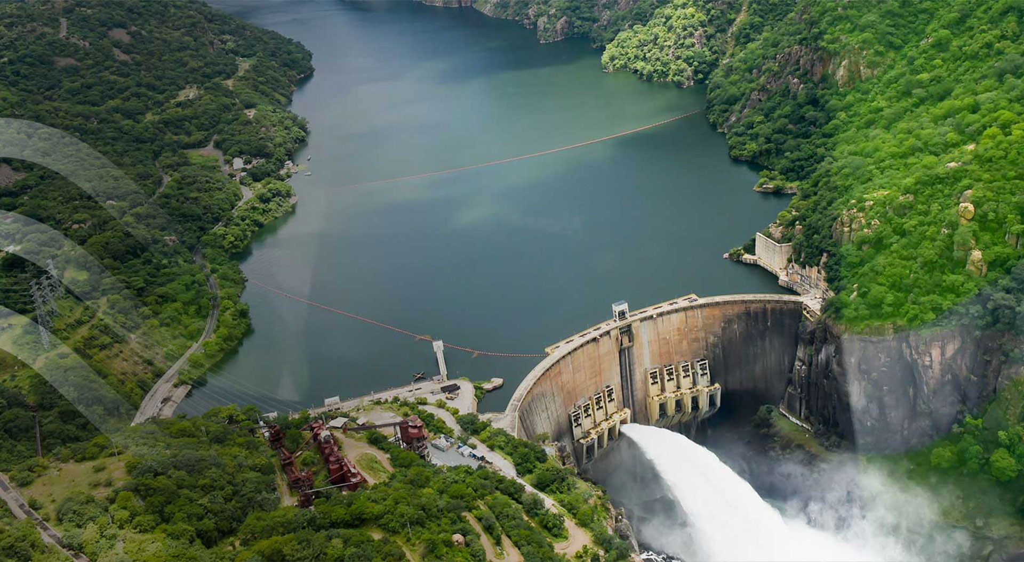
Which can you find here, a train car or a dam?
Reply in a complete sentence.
I can see a dam in this picture.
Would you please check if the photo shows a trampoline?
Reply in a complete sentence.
No, the picture doesn't show any trampoline.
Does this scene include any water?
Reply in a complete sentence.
Yes, some water is visible.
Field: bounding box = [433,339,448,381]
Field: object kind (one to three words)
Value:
pier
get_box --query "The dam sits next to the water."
[499,293,808,485]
